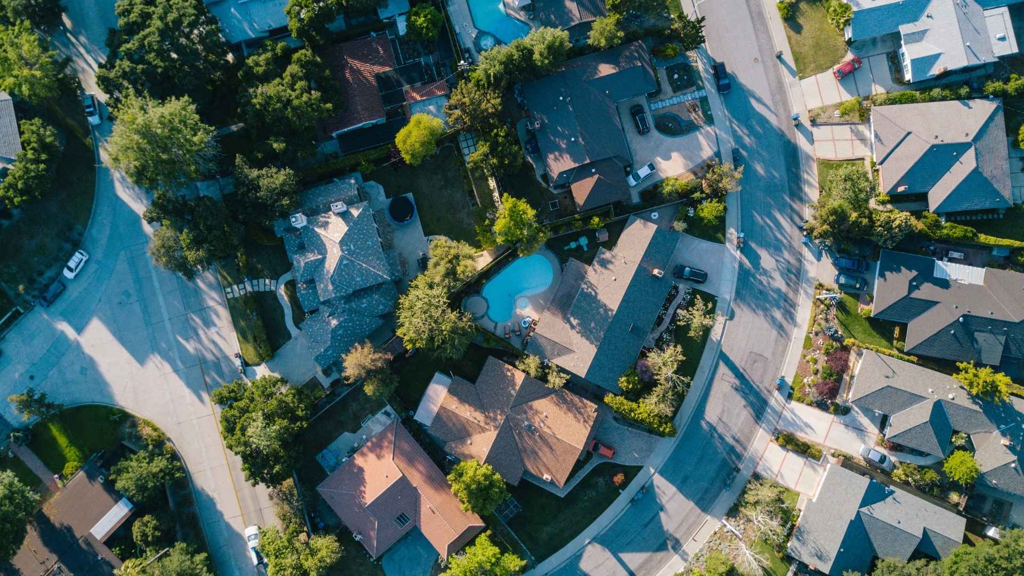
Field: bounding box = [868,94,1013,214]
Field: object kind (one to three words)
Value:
house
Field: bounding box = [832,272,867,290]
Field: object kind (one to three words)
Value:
car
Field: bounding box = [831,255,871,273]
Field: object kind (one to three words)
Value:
vehicle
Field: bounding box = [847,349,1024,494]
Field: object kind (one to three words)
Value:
house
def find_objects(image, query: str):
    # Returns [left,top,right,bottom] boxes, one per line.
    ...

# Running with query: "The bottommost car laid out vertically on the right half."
[631,102,650,137]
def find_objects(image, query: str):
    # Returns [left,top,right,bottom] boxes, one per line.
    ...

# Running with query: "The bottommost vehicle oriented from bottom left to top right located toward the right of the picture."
[627,161,658,187]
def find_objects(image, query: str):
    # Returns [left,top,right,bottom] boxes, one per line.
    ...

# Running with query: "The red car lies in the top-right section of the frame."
[829,55,863,81]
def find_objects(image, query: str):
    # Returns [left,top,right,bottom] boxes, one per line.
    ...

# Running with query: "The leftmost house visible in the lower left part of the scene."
[12,468,139,576]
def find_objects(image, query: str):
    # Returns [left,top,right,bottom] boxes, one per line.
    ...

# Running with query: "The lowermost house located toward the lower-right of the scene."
[786,463,967,576]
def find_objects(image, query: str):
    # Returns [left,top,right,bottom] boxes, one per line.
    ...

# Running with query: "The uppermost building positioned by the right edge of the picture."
[843,0,1024,84]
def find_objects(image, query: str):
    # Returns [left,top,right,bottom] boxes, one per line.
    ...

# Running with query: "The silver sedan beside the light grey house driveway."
[859,445,892,470]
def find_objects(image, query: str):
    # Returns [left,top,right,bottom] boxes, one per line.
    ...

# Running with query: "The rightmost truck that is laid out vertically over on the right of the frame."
[711,58,732,98]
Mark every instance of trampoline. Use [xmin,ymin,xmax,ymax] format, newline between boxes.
[388,196,415,223]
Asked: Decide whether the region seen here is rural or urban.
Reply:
urban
